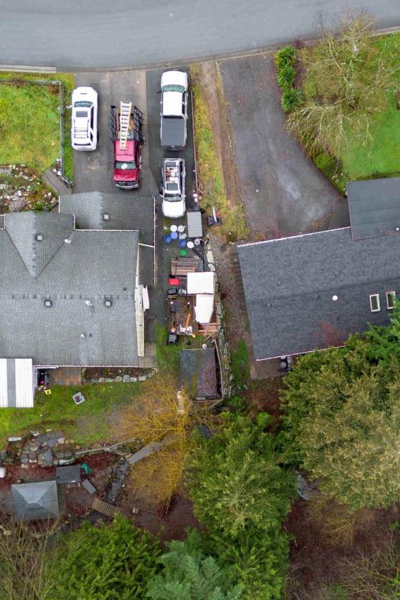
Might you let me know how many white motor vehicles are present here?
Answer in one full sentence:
The count of white motor vehicles comes to 3.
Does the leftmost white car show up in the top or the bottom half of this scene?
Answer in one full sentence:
The leftmost white car sits in the top half of the picture.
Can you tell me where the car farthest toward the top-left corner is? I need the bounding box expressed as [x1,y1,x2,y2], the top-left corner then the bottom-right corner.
[69,88,102,151]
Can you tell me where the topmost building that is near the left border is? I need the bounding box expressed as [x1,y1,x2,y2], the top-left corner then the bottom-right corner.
[0,192,159,368]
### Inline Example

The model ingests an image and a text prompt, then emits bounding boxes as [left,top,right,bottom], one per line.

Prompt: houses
[0,192,159,368]
[237,176,400,362]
